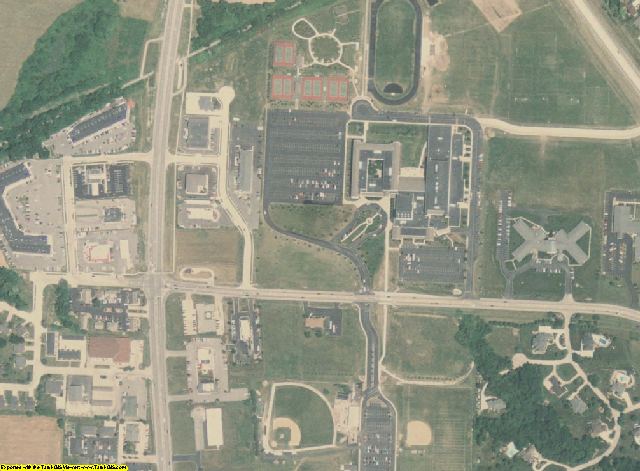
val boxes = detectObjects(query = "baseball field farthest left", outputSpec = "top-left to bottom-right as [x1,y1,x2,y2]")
[264,382,337,452]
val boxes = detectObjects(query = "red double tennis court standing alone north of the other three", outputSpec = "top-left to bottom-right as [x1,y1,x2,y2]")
[272,41,295,66]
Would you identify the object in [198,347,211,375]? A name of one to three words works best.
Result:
building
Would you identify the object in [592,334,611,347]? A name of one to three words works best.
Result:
swimming pool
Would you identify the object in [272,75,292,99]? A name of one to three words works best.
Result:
tennis court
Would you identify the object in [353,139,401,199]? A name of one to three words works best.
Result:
building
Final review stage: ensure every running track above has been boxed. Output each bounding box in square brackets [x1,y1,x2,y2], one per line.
[369,0,421,104]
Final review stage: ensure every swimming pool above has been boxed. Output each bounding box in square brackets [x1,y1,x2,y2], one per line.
[503,441,519,459]
[592,334,611,347]
[616,372,631,385]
